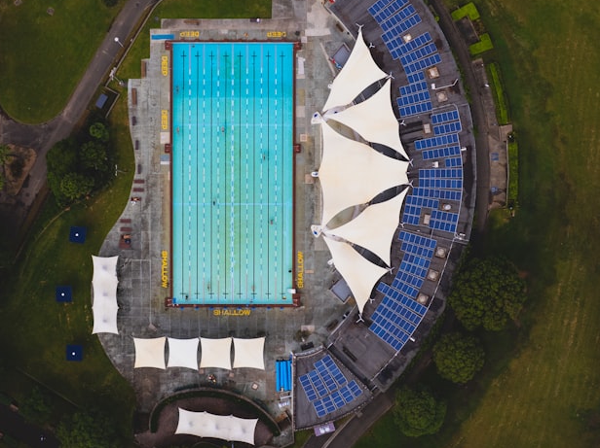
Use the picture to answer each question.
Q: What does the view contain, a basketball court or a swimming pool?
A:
swimming pool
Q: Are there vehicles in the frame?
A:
No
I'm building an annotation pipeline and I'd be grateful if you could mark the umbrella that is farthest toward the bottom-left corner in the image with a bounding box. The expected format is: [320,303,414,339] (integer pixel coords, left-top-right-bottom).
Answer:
[66,344,83,362]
